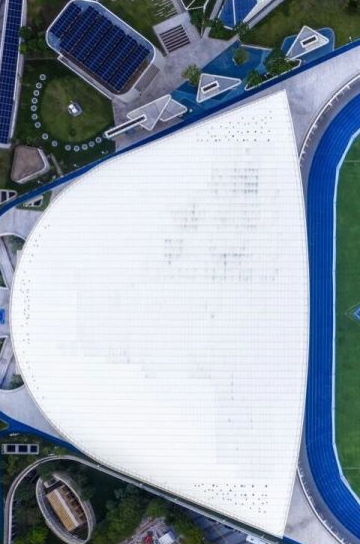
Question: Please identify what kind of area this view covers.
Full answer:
The area seen from above is a sports ground.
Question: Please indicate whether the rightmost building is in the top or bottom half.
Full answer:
It is in the top half that the rightmost building appears.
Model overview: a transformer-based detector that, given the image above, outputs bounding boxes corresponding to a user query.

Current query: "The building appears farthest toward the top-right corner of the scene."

[287,26,330,58]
